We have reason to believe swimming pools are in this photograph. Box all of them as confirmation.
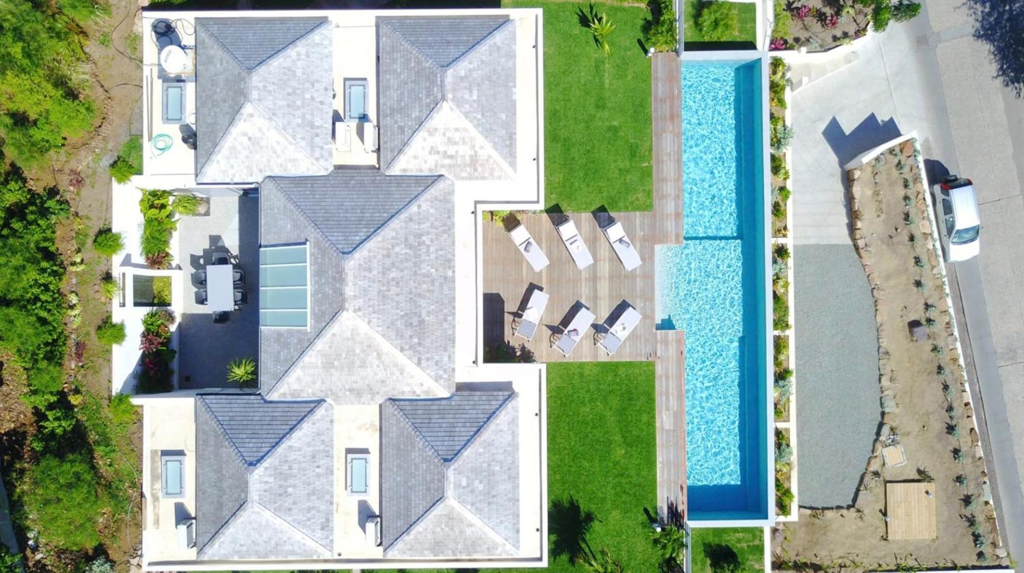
[675,47,777,531]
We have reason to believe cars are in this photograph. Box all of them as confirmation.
[936,178,986,262]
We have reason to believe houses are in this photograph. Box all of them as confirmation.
[141,7,548,570]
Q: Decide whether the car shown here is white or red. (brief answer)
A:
white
